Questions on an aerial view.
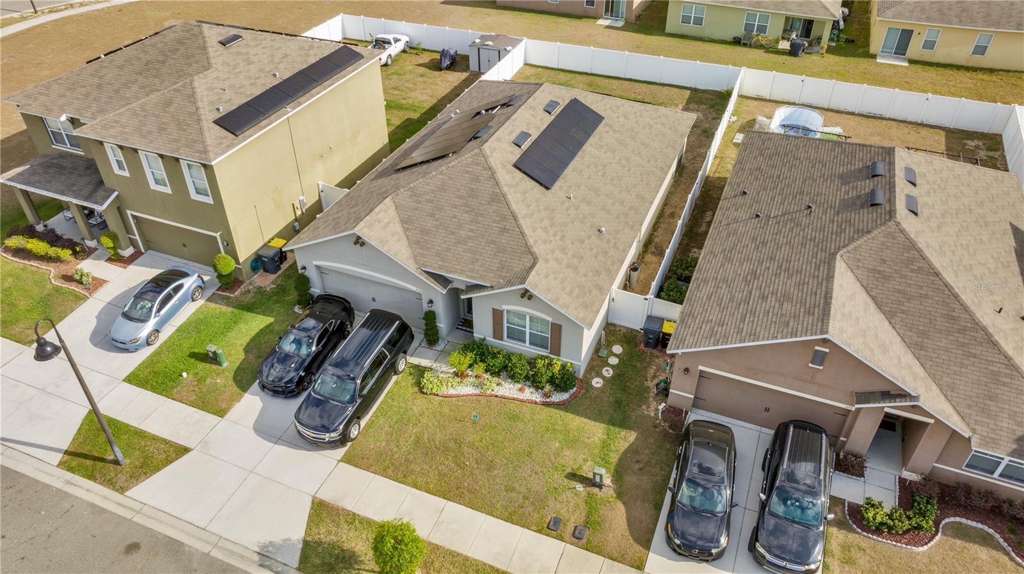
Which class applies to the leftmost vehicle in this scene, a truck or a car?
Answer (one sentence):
Specifically, the leftmost vehicle is a car.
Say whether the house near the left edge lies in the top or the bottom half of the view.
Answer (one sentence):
It is in the top half that the house near the left edge appears.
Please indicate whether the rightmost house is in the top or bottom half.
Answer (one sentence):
The rightmost house is in the top half of the image.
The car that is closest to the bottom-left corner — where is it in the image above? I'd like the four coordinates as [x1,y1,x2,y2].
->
[104,262,204,348]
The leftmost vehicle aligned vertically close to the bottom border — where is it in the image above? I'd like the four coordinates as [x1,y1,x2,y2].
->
[664,418,739,565]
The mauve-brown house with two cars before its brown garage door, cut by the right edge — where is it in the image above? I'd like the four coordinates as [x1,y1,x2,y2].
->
[666,125,1024,503]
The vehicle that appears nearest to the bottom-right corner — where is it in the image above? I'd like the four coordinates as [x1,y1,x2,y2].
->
[750,423,838,574]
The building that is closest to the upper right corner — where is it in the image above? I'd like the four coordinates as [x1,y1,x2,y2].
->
[870,0,1024,74]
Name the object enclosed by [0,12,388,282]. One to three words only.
house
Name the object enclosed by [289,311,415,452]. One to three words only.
car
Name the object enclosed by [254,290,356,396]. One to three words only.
car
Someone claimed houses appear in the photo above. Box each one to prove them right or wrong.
[870,0,1024,74]
[491,0,650,26]
[666,0,844,53]
[280,80,697,377]
[666,125,1024,503]
[0,12,388,282]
